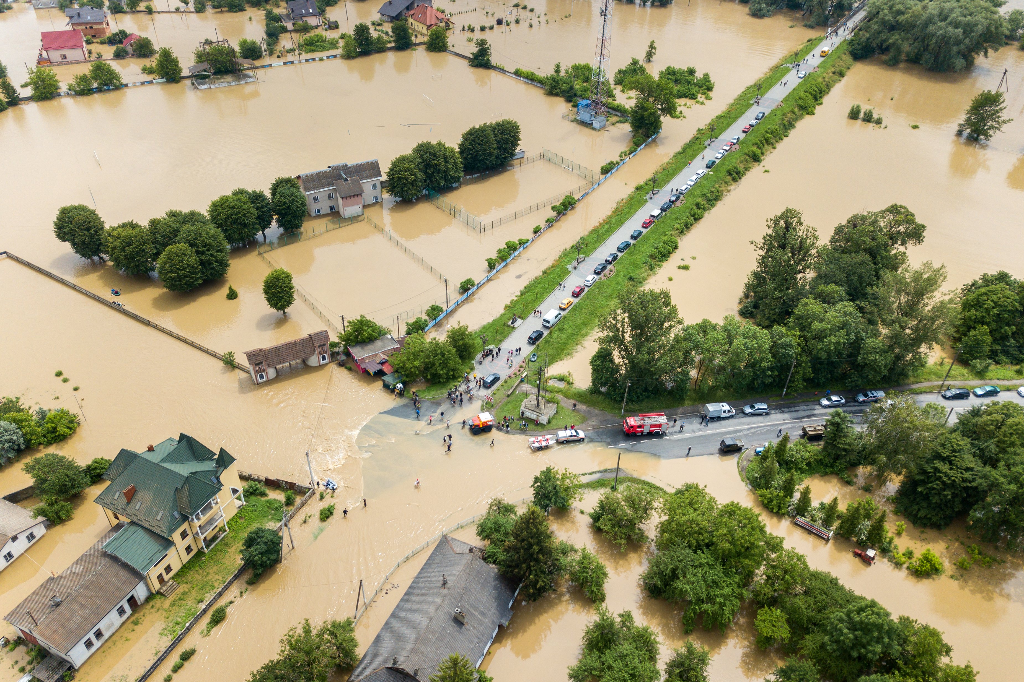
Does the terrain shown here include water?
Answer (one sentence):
Yes, the picture does contain water.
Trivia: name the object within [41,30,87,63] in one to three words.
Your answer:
house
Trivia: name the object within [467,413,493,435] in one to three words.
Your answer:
vehicle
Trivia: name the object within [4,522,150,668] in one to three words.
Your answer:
barn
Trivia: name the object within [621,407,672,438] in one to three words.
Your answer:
truck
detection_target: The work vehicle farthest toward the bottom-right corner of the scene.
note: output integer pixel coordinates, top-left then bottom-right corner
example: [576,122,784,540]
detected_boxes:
[842,548,876,571]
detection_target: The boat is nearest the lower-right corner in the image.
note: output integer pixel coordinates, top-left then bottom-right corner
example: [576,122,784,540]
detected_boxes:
[525,434,559,449]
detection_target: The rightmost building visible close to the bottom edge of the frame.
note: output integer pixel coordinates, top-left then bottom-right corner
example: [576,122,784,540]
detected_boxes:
[346,535,526,682]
